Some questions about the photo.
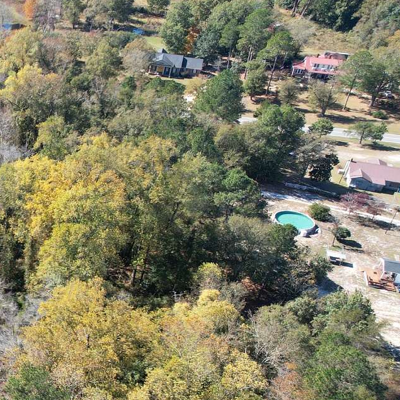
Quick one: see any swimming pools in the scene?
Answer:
Yes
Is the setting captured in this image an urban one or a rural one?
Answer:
rural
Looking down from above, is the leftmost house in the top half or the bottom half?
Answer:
top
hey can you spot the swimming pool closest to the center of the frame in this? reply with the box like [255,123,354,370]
[272,213,315,238]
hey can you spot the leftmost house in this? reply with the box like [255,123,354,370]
[147,51,204,78]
